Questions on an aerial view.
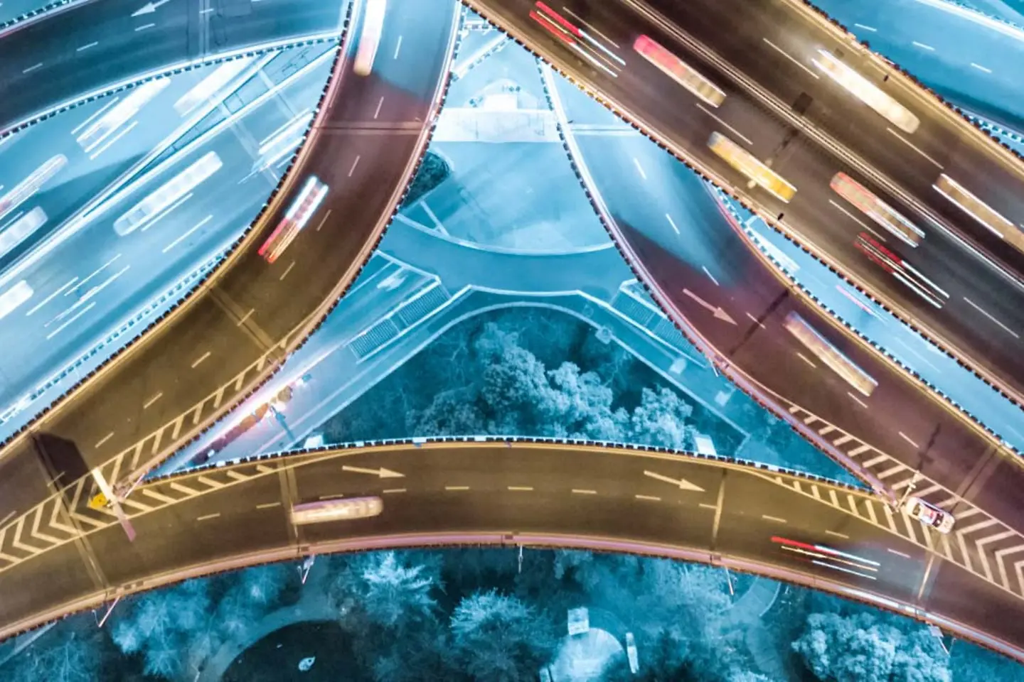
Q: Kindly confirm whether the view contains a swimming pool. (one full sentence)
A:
No, I find no swimming pool anywhere in the image.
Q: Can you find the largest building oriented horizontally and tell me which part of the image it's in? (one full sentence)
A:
The largest building oriented horizontally is located in the top region of the scene.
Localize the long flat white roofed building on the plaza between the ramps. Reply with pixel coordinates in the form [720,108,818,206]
[429,94,561,144]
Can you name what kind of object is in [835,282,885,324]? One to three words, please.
car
